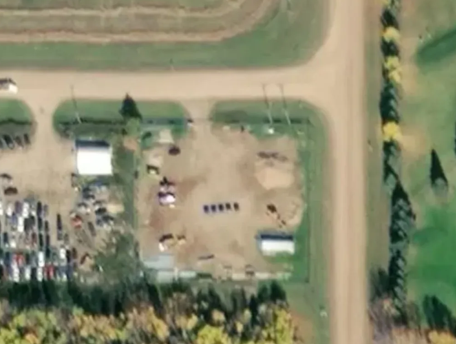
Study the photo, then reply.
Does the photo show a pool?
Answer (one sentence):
No, no pool is visible in the view.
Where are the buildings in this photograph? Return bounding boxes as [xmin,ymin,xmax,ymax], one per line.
[261,240,295,257]
[77,144,113,181]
